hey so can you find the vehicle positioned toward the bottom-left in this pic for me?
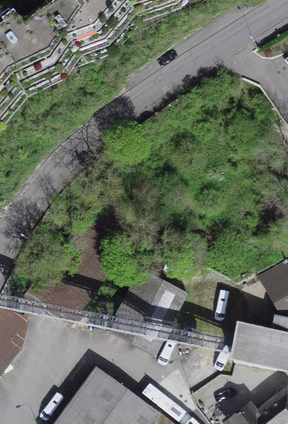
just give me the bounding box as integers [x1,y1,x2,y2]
[40,392,65,421]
